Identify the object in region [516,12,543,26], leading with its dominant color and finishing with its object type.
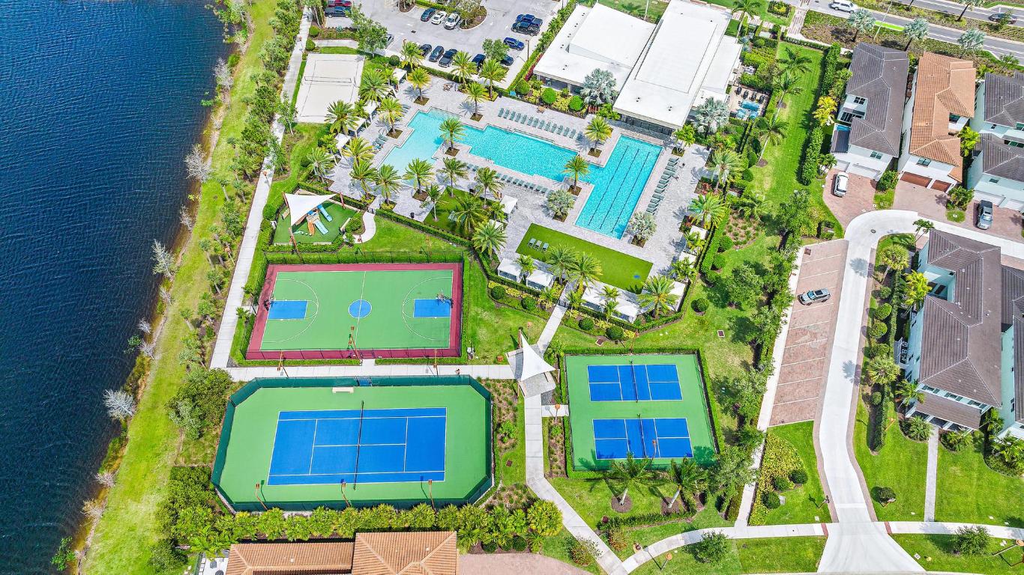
blue vehicle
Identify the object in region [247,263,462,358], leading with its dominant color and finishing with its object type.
green basketball court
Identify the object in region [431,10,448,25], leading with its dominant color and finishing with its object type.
white car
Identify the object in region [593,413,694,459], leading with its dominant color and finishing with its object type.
blue sports court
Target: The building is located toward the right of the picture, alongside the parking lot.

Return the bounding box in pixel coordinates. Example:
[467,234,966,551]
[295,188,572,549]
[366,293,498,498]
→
[534,0,742,143]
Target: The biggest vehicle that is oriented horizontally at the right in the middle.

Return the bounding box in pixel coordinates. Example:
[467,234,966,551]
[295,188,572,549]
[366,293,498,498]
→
[798,287,831,305]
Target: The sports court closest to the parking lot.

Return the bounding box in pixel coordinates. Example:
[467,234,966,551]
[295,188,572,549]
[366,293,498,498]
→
[295,53,365,122]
